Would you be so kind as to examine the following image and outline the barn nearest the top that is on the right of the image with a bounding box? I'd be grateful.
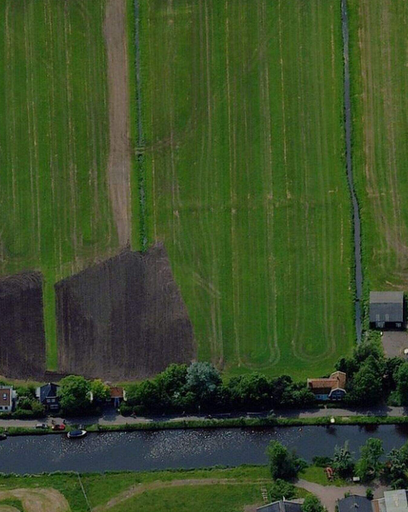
[370,292,405,329]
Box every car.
[52,423,66,429]
[35,422,49,428]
